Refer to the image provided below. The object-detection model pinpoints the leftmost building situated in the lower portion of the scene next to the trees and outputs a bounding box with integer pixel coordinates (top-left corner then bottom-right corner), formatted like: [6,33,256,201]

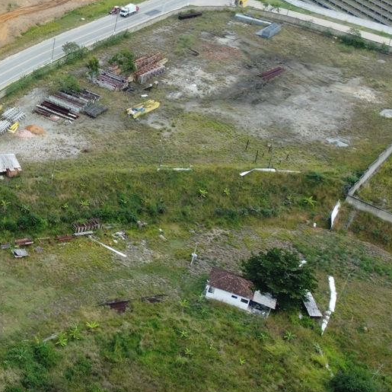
[207,271,282,323]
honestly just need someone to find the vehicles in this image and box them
[107,5,121,15]
[116,2,140,19]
